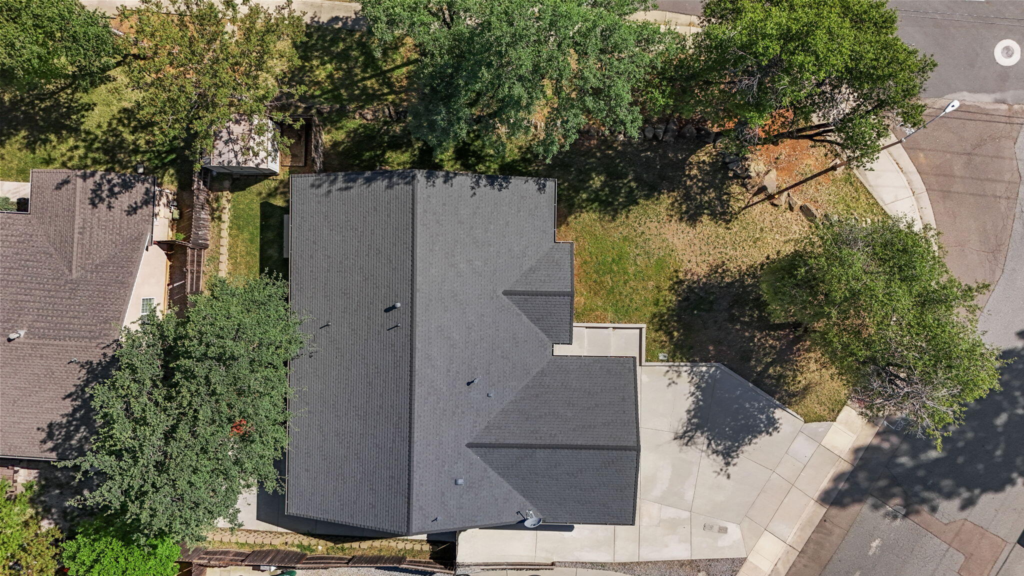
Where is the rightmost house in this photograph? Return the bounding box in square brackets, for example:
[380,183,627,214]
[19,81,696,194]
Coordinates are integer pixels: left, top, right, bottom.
[283,168,642,536]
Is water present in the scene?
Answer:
No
